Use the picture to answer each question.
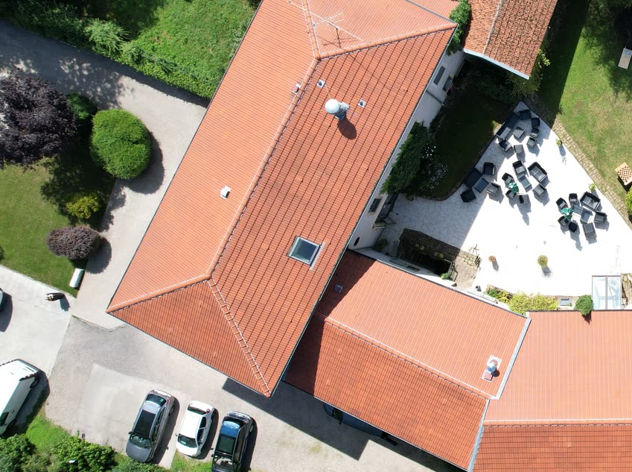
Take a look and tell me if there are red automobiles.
No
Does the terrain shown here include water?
No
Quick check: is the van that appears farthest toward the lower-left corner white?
Yes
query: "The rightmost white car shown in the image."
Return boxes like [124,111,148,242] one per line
[172,396,218,459]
